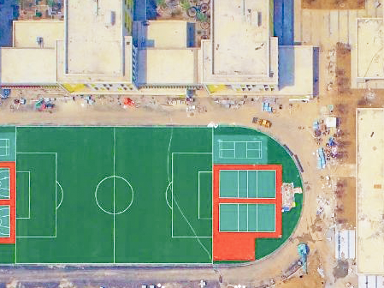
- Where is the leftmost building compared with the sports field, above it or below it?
above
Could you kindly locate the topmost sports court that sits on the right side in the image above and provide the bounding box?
[213,135,267,164]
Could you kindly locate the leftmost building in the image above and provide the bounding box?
[0,20,63,95]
